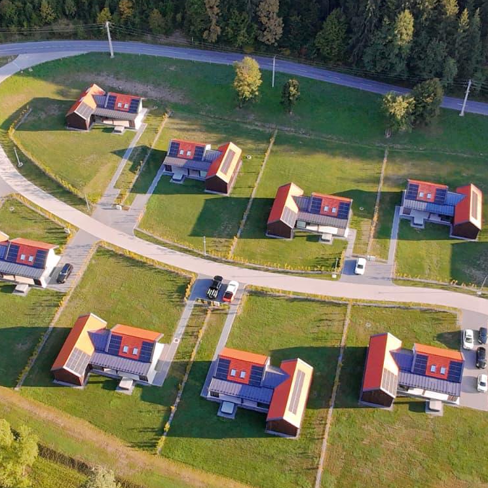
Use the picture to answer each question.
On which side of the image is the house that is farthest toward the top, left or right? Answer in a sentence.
It is on the left.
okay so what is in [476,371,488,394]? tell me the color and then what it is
white vehicle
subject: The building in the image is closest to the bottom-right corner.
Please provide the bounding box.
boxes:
[358,332,465,416]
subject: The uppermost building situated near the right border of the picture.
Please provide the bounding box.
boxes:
[396,181,483,242]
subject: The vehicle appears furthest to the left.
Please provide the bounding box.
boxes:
[56,264,74,282]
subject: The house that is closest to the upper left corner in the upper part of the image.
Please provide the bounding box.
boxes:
[65,86,149,133]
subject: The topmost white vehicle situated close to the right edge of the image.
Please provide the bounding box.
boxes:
[462,328,475,350]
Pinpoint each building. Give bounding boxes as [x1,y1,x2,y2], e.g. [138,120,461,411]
[0,232,65,297]
[203,349,314,441]
[396,181,483,242]
[161,141,242,194]
[65,86,149,133]
[358,332,465,416]
[265,183,355,243]
[50,313,171,393]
